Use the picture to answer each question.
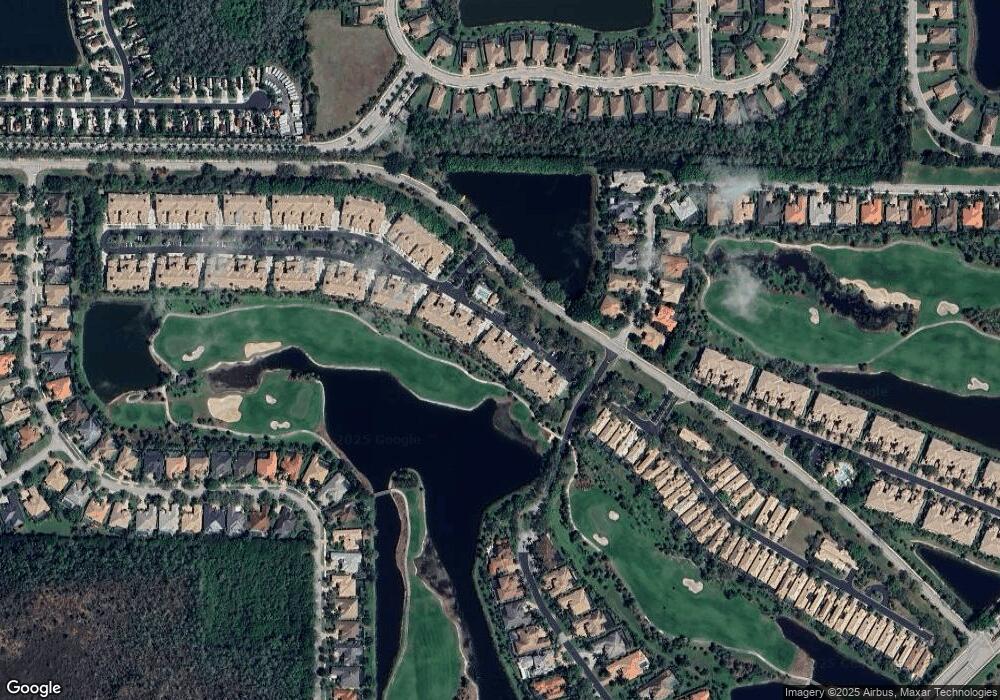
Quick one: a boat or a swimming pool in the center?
swimming pool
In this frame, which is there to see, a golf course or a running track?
golf course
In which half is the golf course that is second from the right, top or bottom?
bottom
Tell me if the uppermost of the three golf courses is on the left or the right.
right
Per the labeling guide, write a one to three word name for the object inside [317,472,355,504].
house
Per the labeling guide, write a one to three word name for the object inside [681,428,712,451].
building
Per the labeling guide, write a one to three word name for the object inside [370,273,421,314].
house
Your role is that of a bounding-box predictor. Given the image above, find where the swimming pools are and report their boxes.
[831,462,854,484]
[473,285,493,306]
